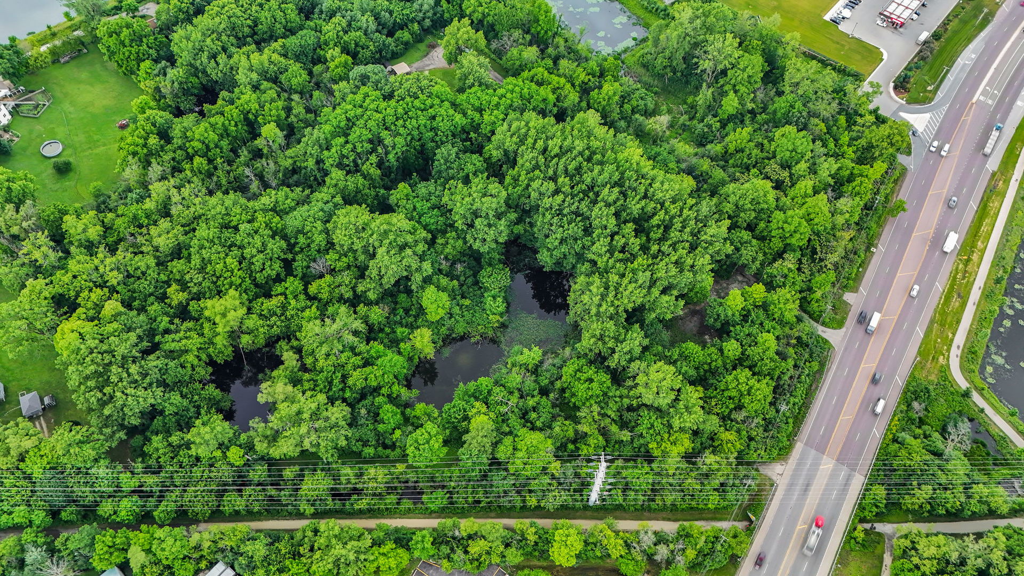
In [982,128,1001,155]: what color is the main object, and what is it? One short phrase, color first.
white vehicle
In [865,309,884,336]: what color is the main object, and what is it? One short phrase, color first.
white vehicle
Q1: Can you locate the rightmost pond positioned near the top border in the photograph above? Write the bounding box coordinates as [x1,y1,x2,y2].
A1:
[545,0,650,54]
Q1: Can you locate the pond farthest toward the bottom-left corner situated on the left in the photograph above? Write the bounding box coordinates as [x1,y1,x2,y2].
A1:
[206,339,288,440]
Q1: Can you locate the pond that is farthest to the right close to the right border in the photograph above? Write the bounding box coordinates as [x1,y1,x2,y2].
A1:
[980,244,1024,418]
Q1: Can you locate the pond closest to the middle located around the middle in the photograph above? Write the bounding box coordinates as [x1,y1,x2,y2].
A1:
[404,240,581,410]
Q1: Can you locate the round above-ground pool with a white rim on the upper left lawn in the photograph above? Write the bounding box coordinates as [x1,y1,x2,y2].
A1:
[40,139,65,159]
